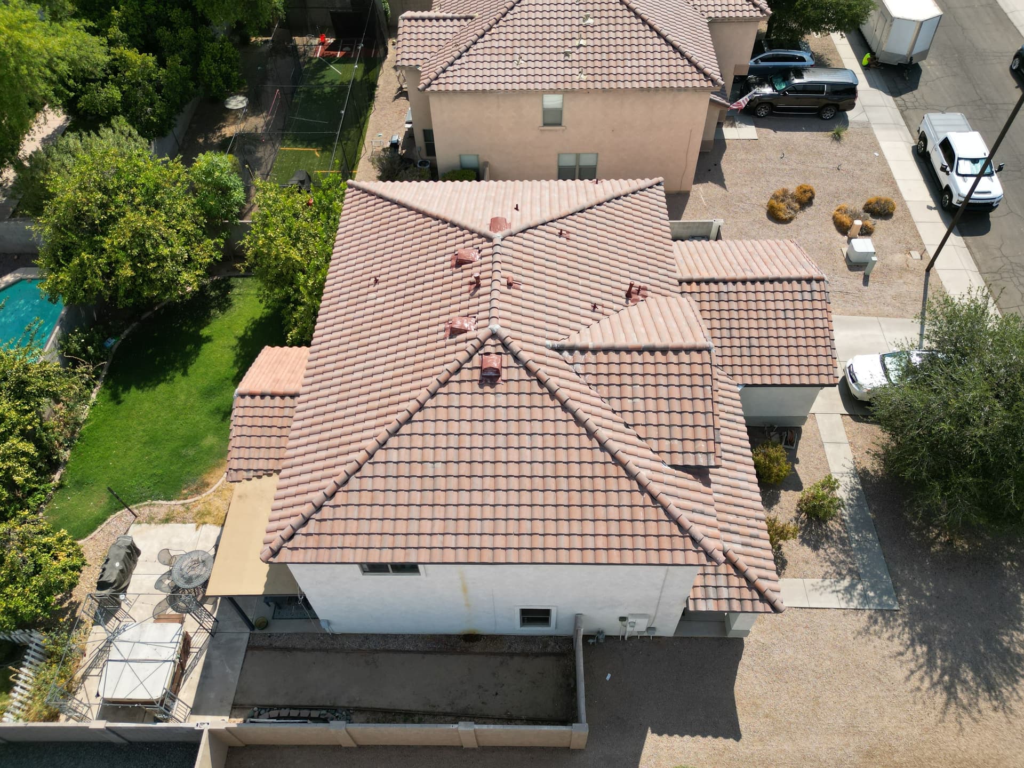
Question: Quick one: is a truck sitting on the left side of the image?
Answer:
No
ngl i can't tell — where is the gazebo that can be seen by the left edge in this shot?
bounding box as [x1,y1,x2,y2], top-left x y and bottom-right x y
[45,592,214,722]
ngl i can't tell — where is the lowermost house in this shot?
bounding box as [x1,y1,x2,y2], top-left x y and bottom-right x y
[205,174,841,640]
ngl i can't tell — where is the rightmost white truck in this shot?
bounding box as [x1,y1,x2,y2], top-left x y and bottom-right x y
[918,117,1006,211]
